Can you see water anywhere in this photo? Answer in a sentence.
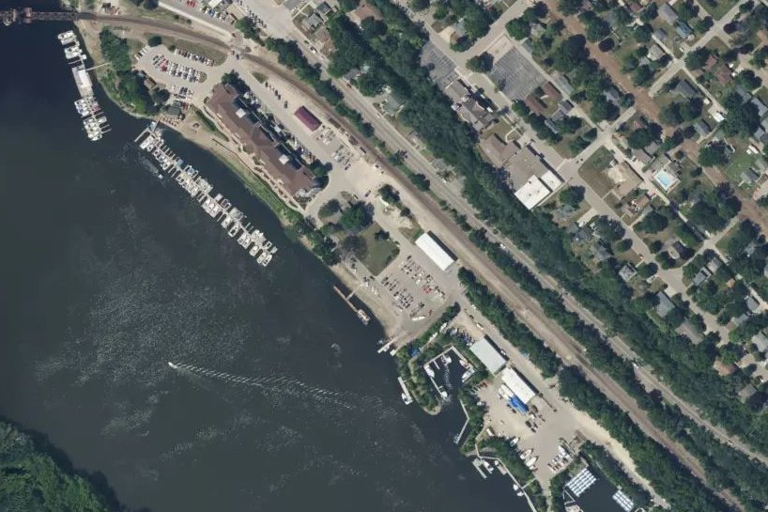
Yes, there is water in the image.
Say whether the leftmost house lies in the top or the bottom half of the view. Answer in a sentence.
Seen from above, the leftmost house lies in the top half of the view.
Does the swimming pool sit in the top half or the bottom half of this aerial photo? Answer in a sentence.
You can find the swimming pool in the top half.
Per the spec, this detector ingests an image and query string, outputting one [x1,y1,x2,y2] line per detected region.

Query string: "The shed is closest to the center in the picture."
[416,231,454,270]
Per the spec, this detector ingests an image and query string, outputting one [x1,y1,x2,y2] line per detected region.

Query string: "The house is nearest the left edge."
[73,63,94,96]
